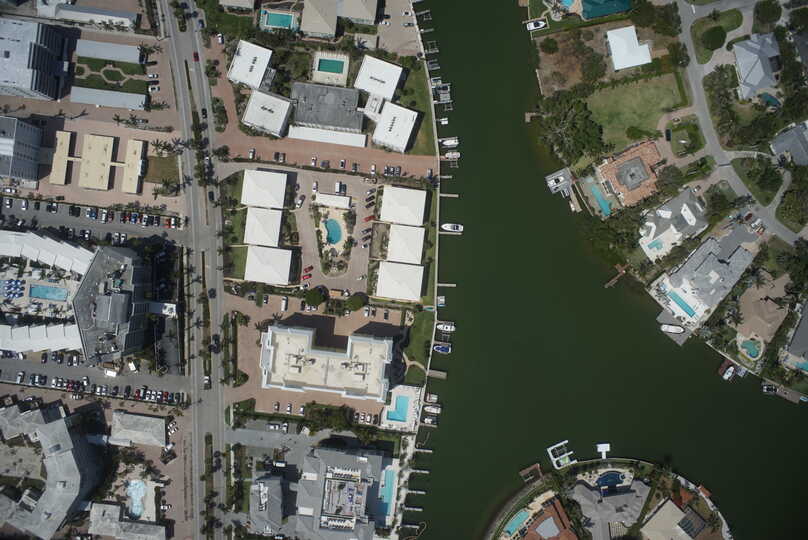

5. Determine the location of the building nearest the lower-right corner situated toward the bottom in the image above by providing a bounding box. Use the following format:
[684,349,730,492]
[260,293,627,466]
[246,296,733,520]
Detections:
[640,500,693,540]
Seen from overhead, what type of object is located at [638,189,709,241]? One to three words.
house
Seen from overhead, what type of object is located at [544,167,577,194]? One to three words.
pier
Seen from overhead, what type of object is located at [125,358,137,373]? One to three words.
vehicle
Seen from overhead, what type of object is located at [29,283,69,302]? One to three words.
swimming pool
